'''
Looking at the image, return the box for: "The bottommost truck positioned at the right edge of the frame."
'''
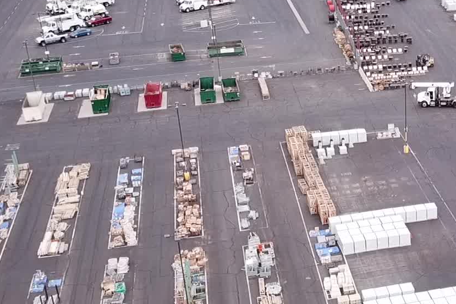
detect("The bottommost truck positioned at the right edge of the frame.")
[410,83,456,110]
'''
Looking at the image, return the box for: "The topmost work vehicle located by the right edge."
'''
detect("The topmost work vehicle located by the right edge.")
[412,52,438,68]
